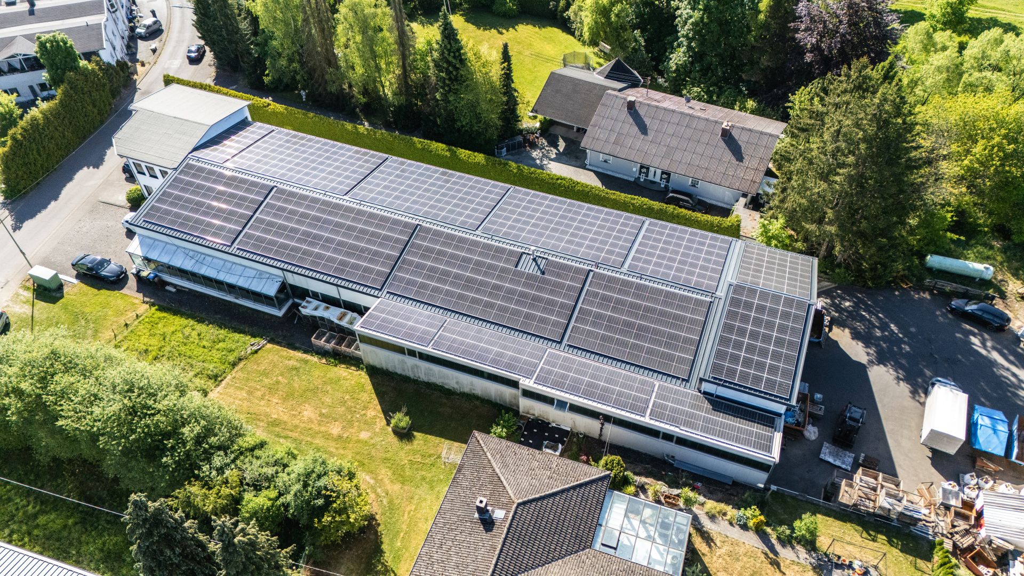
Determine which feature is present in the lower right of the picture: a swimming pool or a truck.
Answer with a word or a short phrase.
truck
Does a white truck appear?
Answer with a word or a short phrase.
Yes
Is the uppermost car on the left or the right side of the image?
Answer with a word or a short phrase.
left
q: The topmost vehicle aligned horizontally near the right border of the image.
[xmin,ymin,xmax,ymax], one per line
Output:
[946,296,1022,335]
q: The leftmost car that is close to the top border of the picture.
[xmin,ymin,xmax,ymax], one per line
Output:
[129,17,166,42]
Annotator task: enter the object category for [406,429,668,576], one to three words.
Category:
house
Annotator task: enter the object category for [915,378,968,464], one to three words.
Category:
truck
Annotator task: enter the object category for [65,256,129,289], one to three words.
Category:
car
